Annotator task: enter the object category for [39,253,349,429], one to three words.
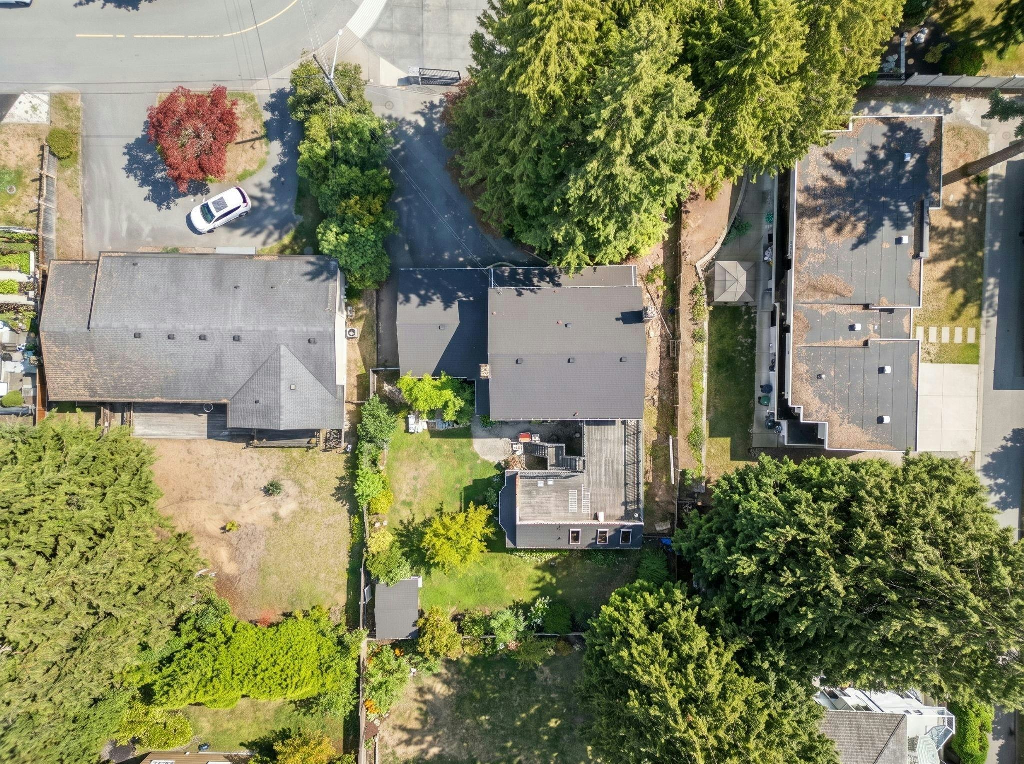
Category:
house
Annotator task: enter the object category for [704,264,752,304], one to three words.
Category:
gazebo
